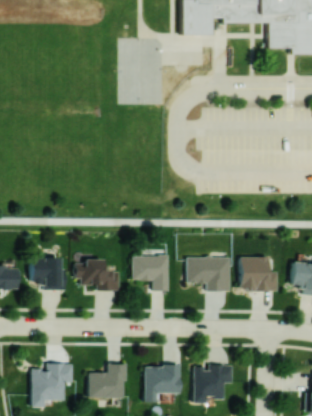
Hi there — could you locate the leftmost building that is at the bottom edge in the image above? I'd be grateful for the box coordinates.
[30,364,74,408]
